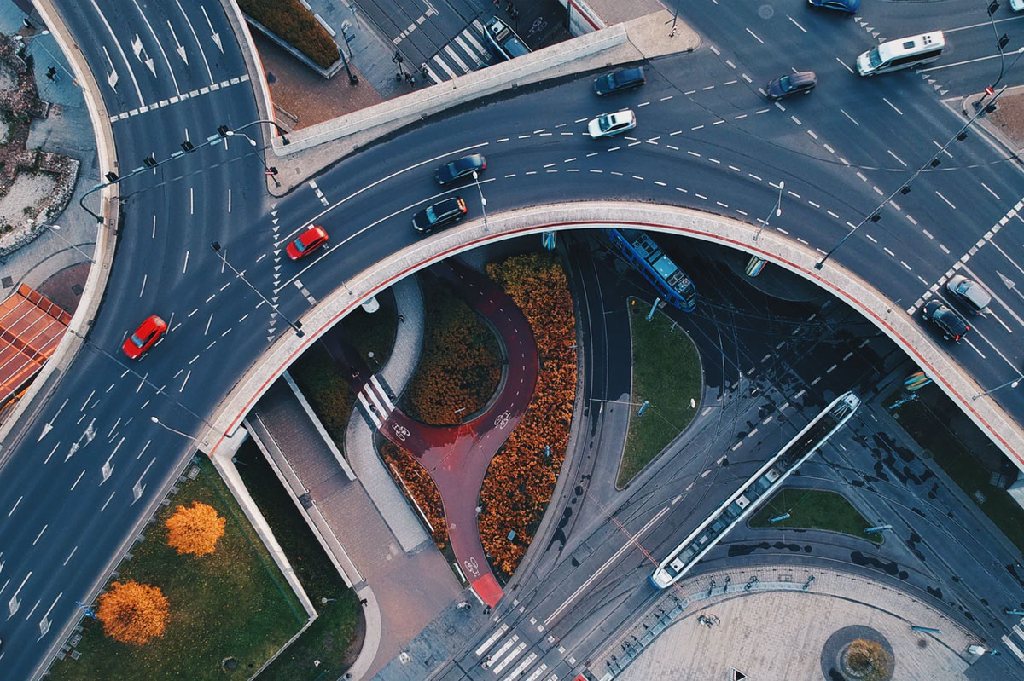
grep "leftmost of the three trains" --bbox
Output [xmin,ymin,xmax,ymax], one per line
[484,14,534,62]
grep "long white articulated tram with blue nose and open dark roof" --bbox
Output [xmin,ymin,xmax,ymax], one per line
[651,394,862,588]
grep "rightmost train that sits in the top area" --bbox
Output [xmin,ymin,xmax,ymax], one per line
[586,231,697,313]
